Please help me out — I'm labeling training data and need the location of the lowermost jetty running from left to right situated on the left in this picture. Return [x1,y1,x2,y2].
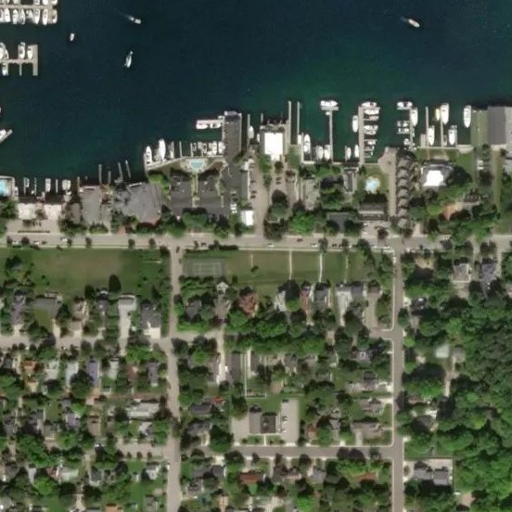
[143,141,217,170]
